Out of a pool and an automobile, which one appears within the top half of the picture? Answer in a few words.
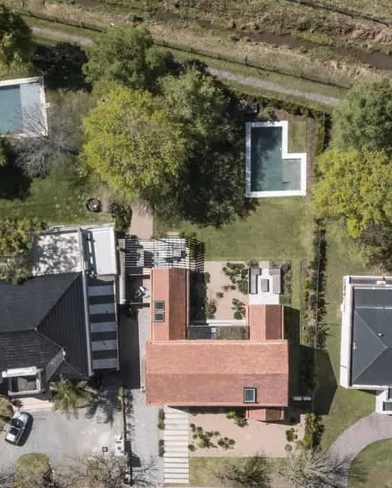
pool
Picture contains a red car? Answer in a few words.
No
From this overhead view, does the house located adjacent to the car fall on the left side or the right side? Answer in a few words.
left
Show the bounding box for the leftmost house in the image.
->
[0,226,124,396]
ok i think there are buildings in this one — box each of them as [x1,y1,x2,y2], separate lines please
[339,277,392,414]
[0,226,124,396]
[146,268,289,419]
